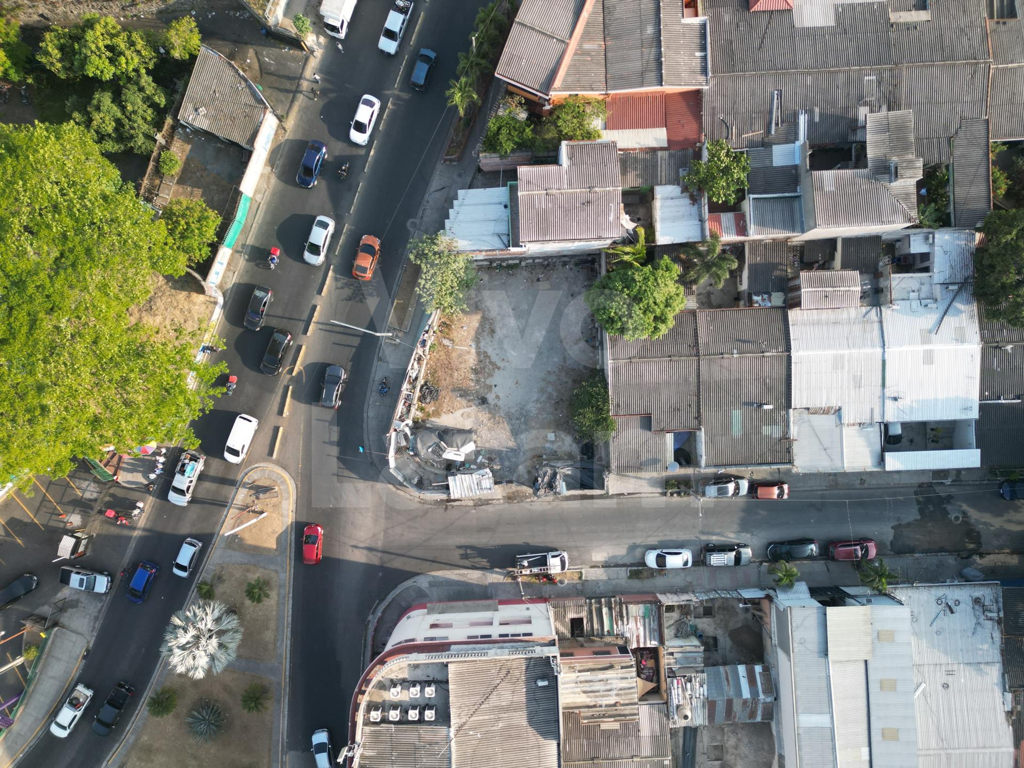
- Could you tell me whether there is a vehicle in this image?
Yes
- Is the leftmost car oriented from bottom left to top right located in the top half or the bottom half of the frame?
bottom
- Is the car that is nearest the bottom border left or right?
left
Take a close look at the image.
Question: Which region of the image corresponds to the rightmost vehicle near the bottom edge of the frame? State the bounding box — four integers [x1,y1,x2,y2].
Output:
[310,727,340,768]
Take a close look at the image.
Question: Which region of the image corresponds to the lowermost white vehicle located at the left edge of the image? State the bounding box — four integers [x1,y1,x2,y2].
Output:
[50,680,98,740]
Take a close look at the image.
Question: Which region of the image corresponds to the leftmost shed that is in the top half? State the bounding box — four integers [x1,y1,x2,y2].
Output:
[179,43,286,153]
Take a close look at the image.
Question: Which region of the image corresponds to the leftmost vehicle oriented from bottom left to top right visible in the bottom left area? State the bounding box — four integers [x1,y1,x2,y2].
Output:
[0,570,43,613]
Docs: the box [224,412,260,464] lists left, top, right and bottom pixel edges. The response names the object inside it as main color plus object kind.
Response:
white van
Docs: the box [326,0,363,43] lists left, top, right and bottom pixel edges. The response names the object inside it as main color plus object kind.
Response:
white truck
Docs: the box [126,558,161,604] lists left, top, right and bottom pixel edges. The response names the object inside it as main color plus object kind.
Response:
blue car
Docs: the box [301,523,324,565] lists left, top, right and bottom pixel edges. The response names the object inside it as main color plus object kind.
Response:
red car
